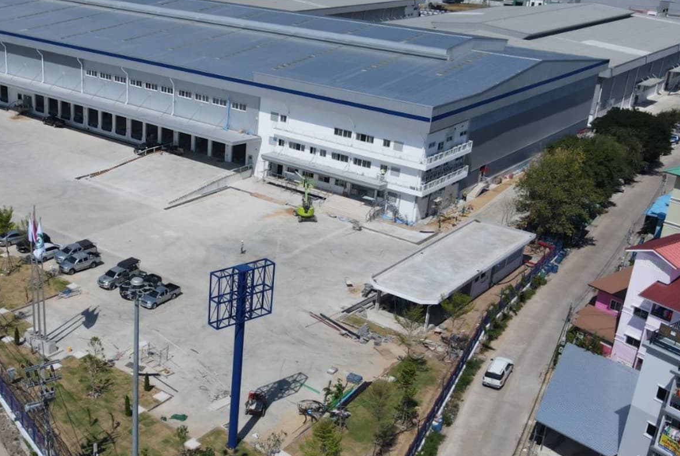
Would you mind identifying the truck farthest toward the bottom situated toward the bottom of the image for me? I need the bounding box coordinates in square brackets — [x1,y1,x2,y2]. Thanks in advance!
[243,385,277,413]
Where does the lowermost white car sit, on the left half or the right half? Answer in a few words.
right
